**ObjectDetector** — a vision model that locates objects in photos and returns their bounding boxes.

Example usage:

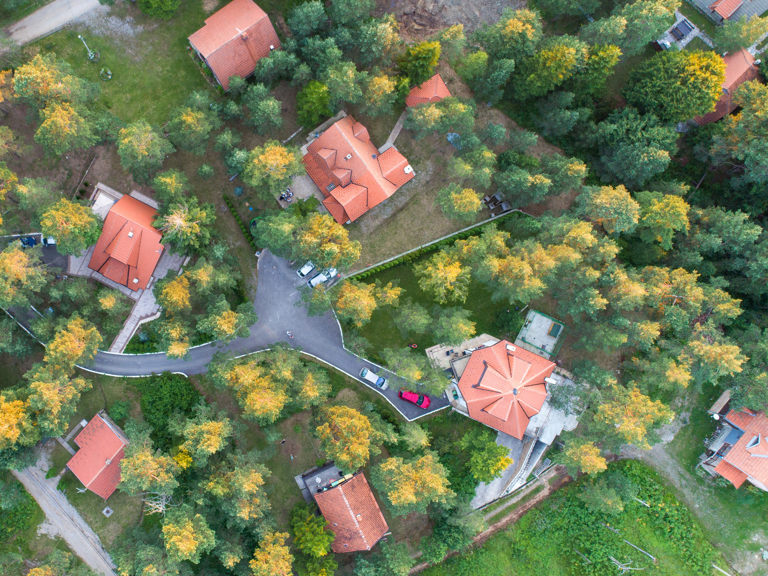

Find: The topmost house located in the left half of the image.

[188,0,278,91]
